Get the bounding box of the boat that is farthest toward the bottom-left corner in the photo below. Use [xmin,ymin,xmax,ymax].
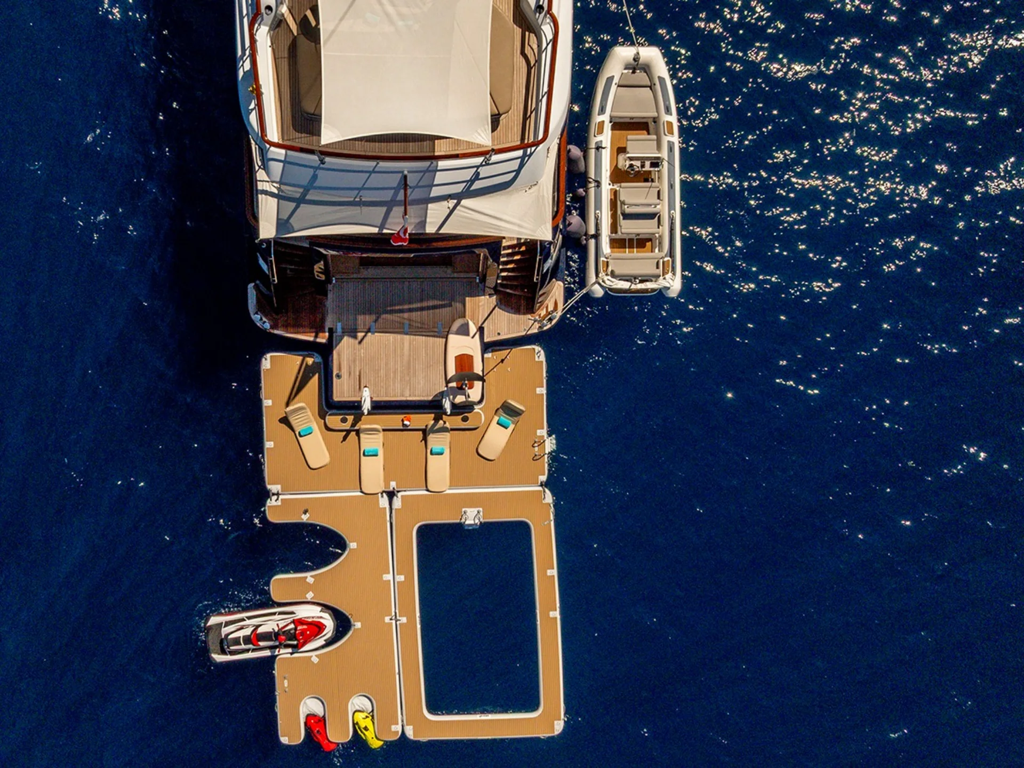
[205,602,338,663]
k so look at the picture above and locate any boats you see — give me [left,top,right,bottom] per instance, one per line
[238,0,573,407]
[205,602,338,663]
[586,45,681,300]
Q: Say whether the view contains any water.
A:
Yes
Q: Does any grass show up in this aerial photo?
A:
No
